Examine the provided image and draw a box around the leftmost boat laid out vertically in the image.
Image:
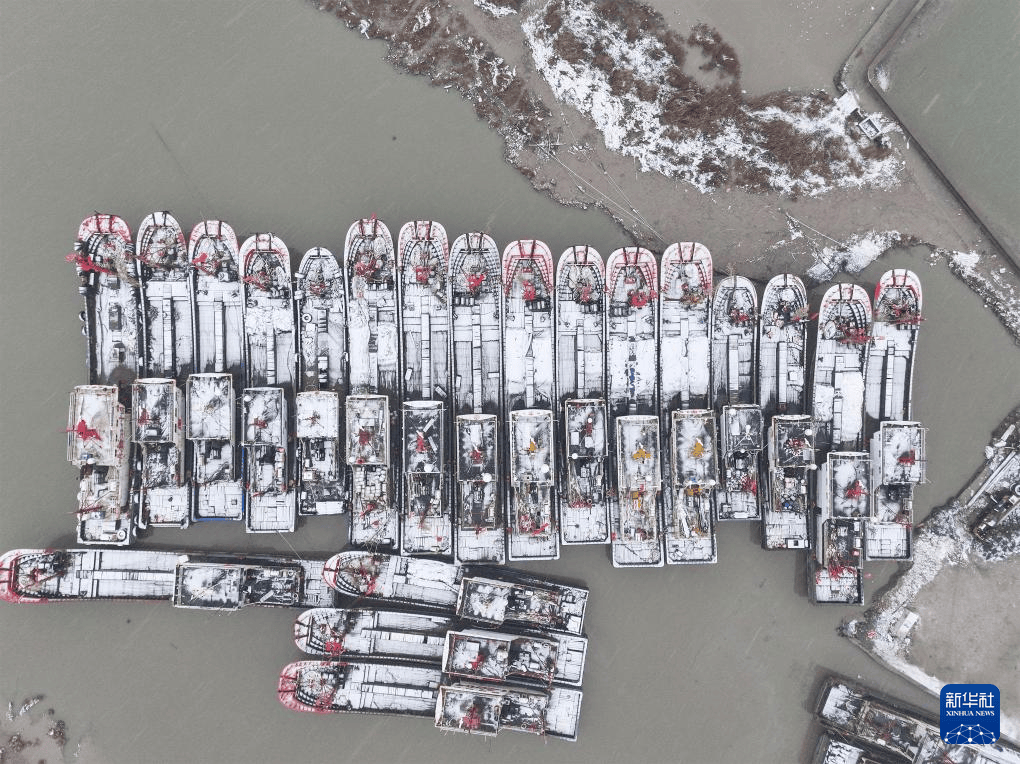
[58,212,141,543]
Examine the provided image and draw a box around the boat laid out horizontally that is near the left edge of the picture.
[0,547,341,613]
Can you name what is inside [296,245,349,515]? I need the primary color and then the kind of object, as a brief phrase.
white boat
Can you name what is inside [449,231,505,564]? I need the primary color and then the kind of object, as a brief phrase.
white boat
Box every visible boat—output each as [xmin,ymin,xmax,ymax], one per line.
[124,209,197,526]
[502,239,559,562]
[811,675,1020,764]
[184,219,247,521]
[449,231,505,564]
[343,216,400,549]
[807,283,875,605]
[276,658,581,742]
[605,246,663,569]
[235,232,301,531]
[58,212,141,543]
[0,547,341,613]
[658,241,720,565]
[292,606,587,688]
[296,245,349,515]
[863,267,929,561]
[556,244,611,545]
[320,552,589,634]
[711,273,768,521]
[396,220,452,556]
[756,272,817,550]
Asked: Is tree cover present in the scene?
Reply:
No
